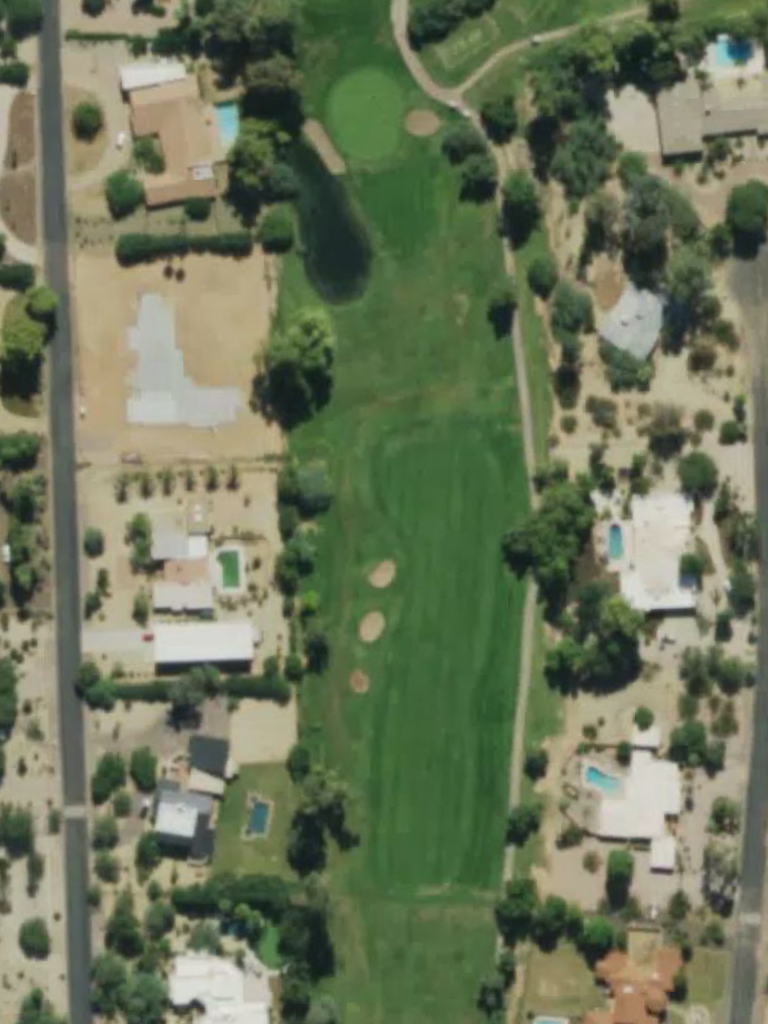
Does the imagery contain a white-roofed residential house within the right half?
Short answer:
Yes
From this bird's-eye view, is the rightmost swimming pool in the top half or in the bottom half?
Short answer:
top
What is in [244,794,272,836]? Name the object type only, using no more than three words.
swimming pool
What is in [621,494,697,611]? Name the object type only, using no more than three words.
house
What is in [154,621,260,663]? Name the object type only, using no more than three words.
building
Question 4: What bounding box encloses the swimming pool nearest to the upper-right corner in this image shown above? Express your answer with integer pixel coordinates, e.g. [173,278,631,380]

[715,35,754,67]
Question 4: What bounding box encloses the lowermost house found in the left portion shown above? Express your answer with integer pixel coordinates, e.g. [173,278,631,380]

[168,958,269,1024]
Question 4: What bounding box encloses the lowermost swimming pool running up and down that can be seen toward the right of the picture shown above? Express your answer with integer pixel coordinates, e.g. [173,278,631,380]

[608,523,624,561]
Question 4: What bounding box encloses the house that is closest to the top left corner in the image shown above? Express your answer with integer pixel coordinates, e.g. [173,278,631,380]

[120,62,215,206]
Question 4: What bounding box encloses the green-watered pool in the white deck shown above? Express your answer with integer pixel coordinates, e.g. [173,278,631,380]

[217,550,241,588]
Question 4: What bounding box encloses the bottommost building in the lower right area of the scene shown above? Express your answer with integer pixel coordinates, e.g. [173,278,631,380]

[587,949,683,1024]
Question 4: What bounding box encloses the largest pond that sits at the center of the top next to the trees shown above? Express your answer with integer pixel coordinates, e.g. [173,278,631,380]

[296,141,372,302]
